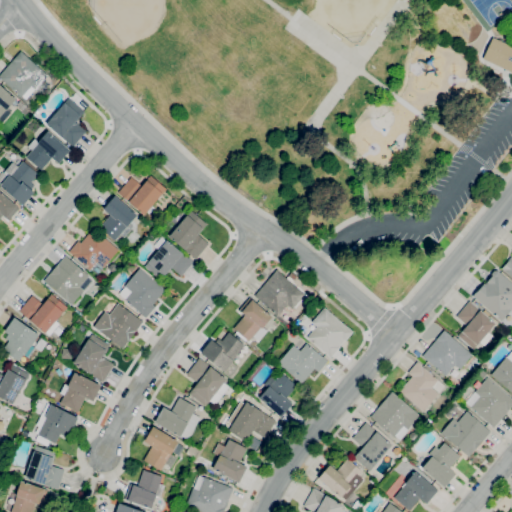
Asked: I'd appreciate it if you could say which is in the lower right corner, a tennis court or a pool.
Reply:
pool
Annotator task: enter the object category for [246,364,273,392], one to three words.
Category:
swimming pool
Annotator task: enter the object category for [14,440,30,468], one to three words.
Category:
swimming pool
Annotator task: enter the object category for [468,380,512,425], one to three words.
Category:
house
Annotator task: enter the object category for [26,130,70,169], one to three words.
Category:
house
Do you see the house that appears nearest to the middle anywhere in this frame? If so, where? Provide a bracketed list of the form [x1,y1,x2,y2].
[255,270,303,317]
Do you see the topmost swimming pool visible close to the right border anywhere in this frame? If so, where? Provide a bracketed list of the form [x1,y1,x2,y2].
[488,344,512,368]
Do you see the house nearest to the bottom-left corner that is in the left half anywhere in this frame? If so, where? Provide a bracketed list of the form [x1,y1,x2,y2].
[10,482,48,512]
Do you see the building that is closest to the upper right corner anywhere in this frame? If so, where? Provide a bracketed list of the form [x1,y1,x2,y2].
[484,38,512,68]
